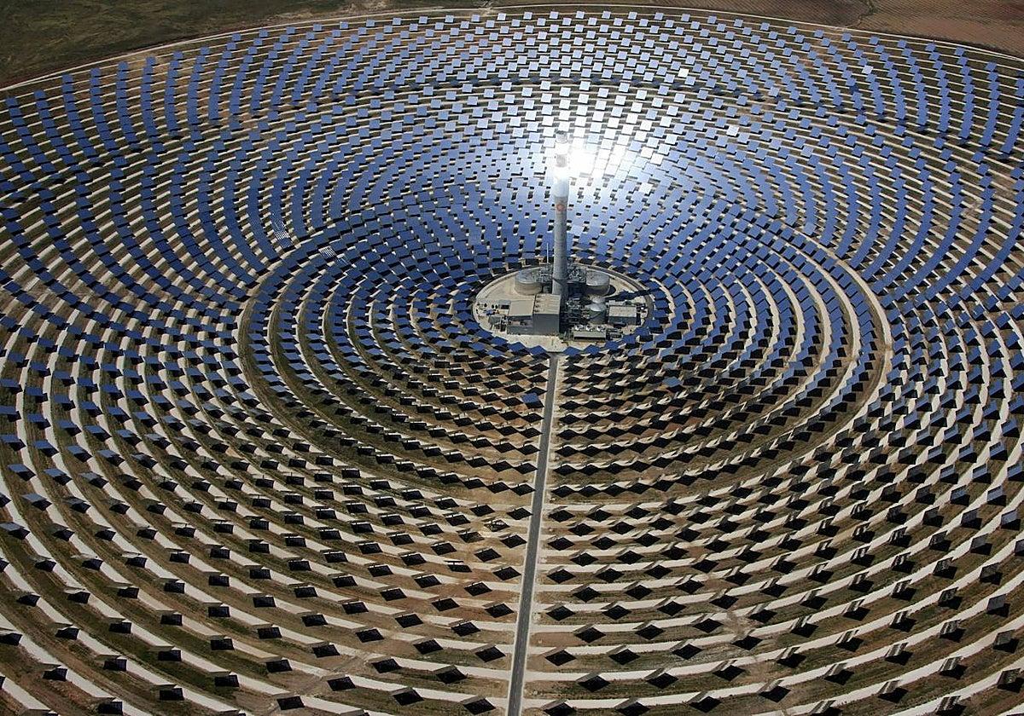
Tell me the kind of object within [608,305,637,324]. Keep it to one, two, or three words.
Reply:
building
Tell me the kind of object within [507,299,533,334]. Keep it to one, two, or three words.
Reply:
building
